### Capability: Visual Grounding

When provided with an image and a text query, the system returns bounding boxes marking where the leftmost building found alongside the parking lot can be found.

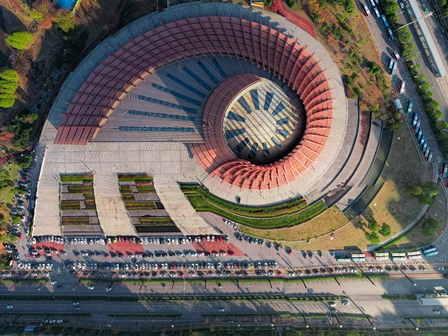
[32,3,383,238]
